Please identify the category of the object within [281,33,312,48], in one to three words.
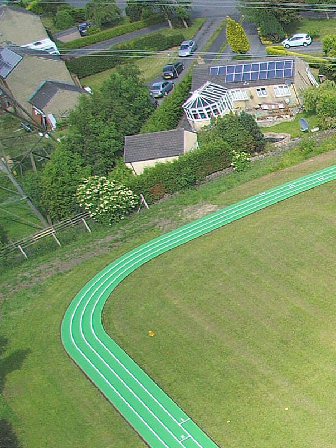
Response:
car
